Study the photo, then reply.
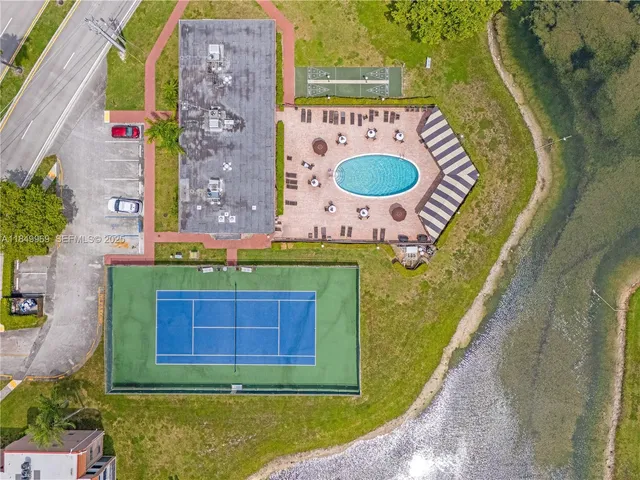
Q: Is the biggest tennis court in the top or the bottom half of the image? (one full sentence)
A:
It is in the bottom half that the biggest tennis court appears.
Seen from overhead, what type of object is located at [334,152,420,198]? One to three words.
swimming pool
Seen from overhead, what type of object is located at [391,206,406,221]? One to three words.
umbrella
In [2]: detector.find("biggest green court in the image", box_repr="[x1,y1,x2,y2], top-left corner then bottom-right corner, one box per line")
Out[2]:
[111,265,361,392]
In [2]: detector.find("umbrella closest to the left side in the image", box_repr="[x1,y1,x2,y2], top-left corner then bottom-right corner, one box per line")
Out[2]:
[312,140,328,155]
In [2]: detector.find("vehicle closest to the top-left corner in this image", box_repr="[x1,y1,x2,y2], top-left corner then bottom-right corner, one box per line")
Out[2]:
[112,125,141,139]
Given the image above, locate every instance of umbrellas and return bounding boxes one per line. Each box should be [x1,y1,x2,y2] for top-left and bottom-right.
[312,140,328,155]
[391,206,406,221]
